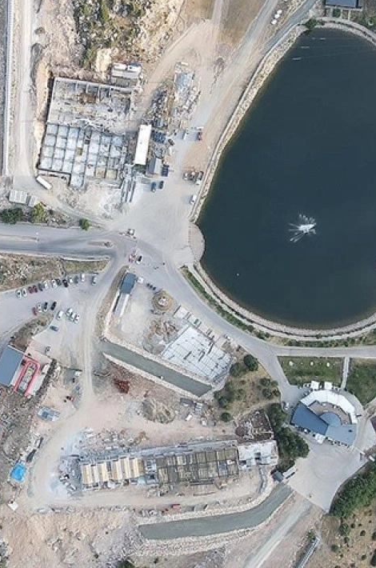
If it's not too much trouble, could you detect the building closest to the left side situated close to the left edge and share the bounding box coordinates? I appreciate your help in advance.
[0,345,25,386]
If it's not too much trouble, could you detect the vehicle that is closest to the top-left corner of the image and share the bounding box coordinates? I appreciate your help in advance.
[36,175,52,190]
